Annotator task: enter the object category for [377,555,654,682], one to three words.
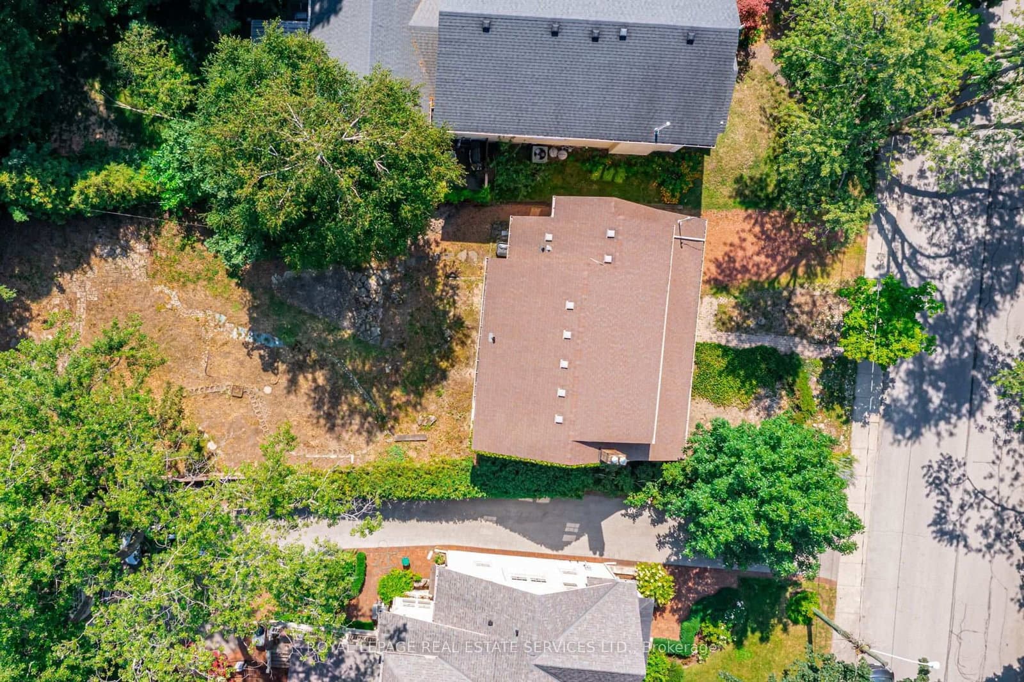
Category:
house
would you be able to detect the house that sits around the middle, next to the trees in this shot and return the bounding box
[470,197,709,465]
